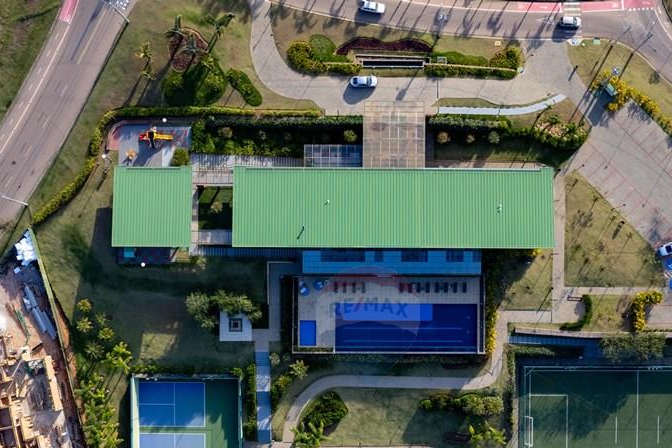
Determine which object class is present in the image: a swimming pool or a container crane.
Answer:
swimming pool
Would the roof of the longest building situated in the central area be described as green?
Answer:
Yes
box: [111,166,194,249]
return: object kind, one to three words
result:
building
